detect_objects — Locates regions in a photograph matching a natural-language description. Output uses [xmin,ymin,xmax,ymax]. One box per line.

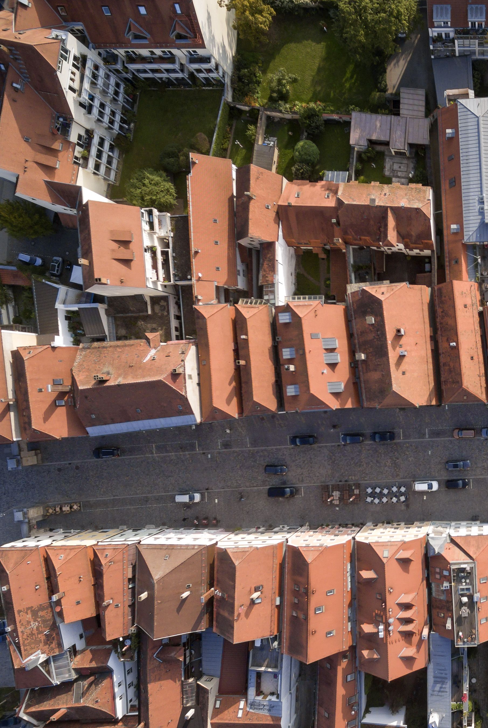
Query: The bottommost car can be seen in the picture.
[0,714,24,728]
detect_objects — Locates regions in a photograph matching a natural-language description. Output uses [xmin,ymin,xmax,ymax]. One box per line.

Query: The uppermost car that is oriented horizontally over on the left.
[17,252,45,268]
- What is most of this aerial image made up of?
buildings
